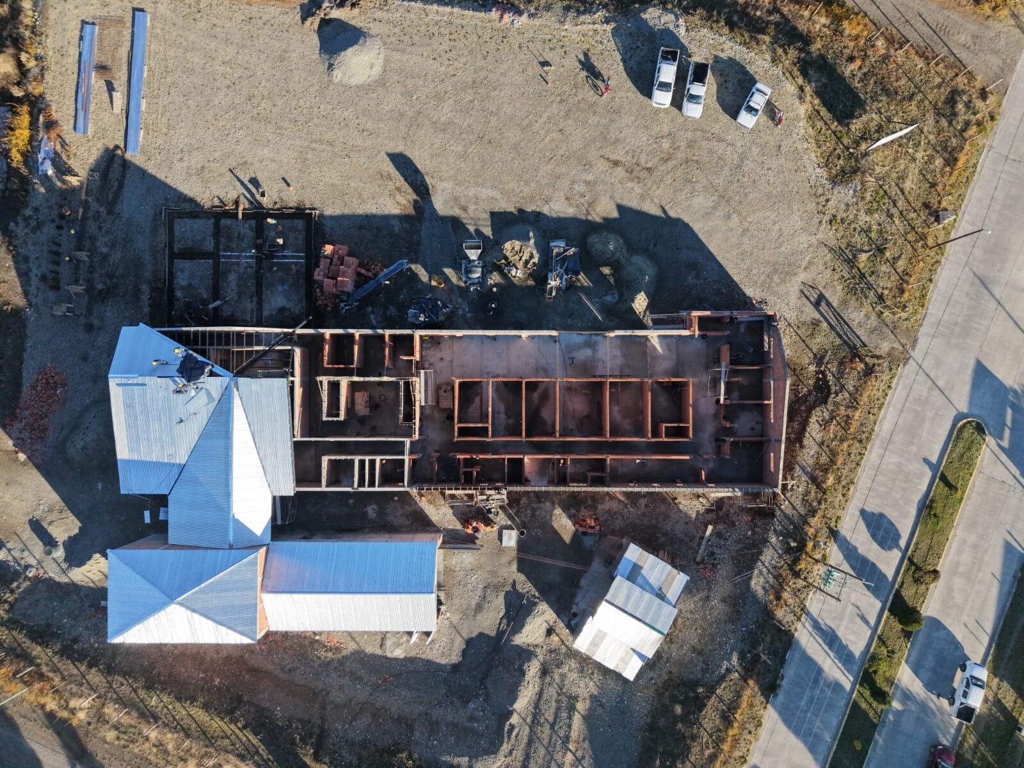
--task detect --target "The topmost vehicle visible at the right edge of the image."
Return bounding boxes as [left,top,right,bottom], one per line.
[953,662,991,725]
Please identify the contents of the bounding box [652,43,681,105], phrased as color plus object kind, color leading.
white truck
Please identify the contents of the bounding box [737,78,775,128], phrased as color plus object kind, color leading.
white car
